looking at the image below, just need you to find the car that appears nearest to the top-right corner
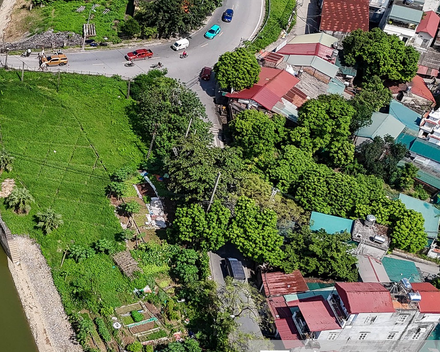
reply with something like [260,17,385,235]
[222,8,235,23]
